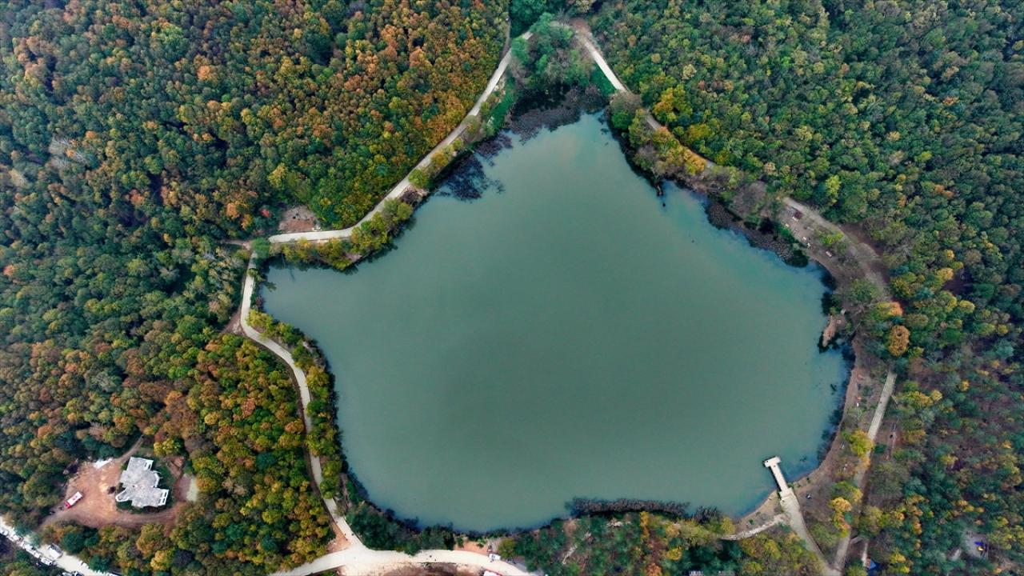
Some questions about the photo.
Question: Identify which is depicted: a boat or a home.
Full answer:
The one in the frame is a home.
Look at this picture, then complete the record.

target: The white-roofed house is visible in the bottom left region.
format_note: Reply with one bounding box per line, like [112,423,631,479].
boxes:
[115,457,170,508]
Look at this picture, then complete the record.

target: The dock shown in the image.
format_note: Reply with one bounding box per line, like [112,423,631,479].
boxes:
[764,457,794,500]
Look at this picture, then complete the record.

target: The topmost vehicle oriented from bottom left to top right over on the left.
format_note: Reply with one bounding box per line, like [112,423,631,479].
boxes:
[62,490,85,509]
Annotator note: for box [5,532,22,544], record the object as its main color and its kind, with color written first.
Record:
white vehicle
